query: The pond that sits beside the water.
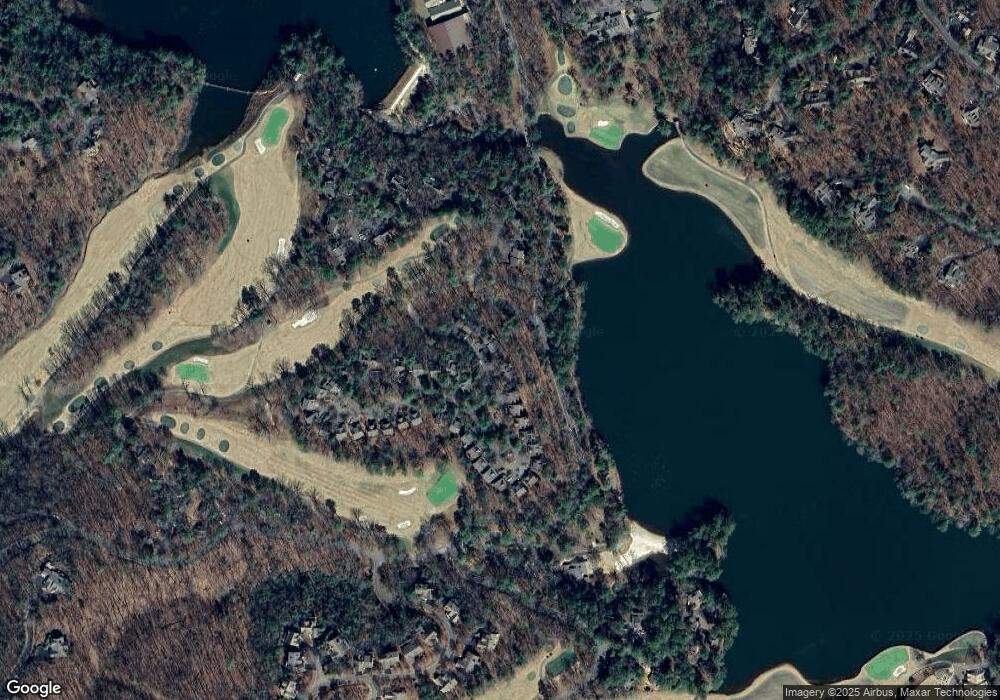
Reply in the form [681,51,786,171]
[89,0,411,160]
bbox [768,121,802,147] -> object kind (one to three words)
house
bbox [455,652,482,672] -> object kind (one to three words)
house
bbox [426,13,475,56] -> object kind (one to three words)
building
